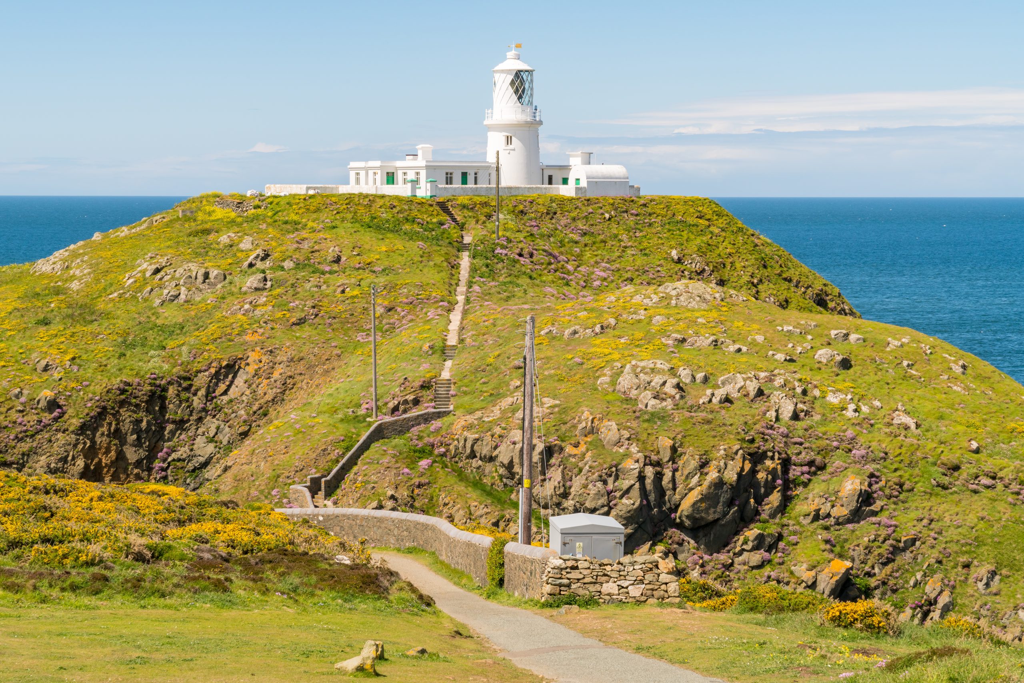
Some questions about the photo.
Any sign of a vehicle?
No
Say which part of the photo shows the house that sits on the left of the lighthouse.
top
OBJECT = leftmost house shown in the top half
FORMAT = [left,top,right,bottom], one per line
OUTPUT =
[346,144,497,191]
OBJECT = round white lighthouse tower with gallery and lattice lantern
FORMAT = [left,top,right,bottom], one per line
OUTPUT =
[484,43,544,185]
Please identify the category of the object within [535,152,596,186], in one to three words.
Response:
building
